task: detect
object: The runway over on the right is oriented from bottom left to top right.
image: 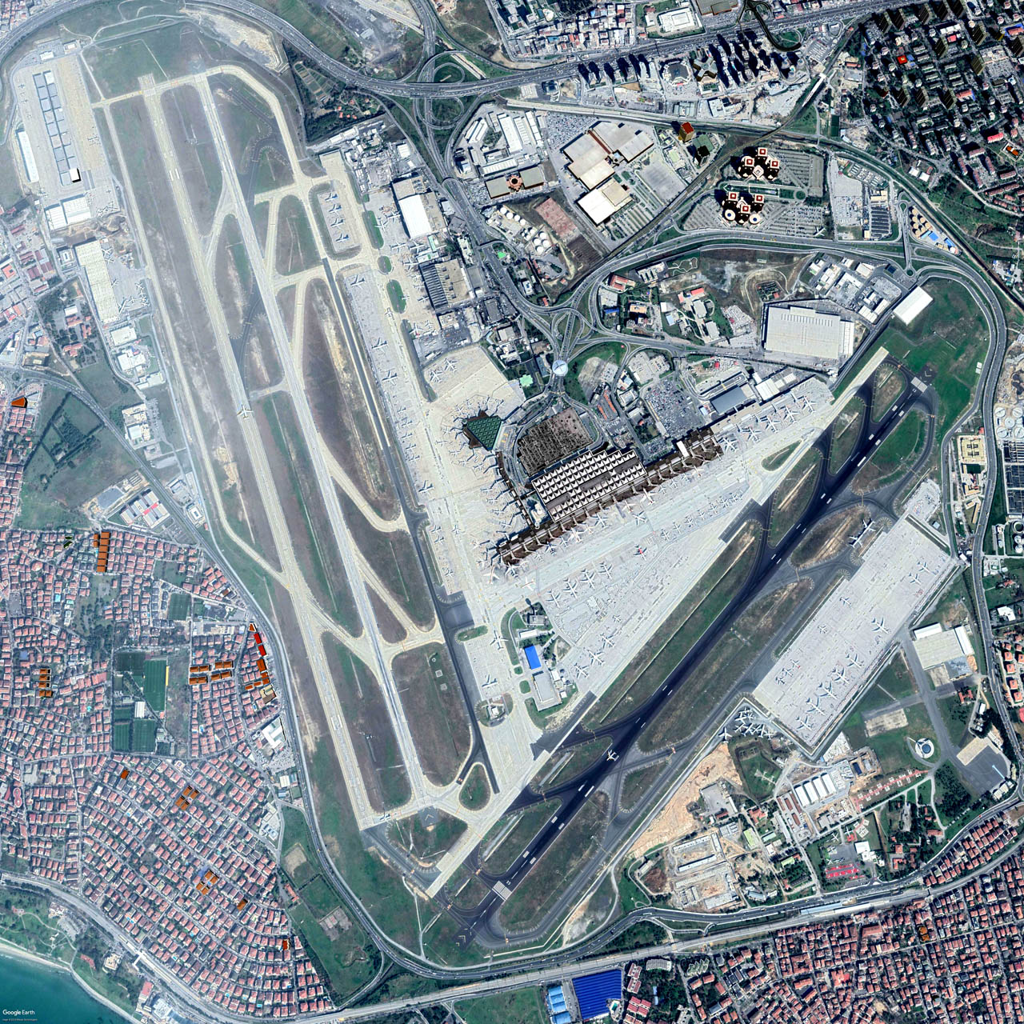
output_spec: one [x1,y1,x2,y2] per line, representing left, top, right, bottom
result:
[491,375,929,900]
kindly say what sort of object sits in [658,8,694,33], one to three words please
building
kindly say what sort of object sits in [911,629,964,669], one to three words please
hangar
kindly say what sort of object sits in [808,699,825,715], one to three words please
airplane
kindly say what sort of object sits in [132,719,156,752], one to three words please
sports field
